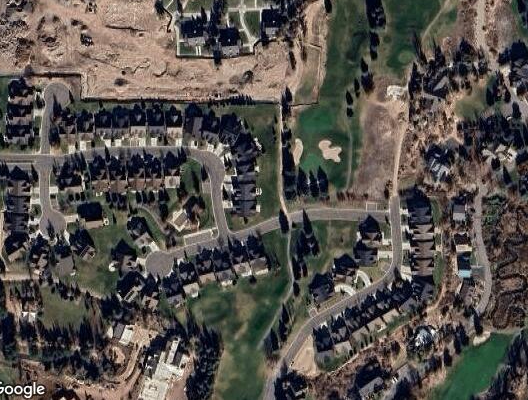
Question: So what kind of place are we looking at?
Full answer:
It's a residential area.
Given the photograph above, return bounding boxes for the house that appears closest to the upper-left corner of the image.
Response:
[9,85,33,105]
